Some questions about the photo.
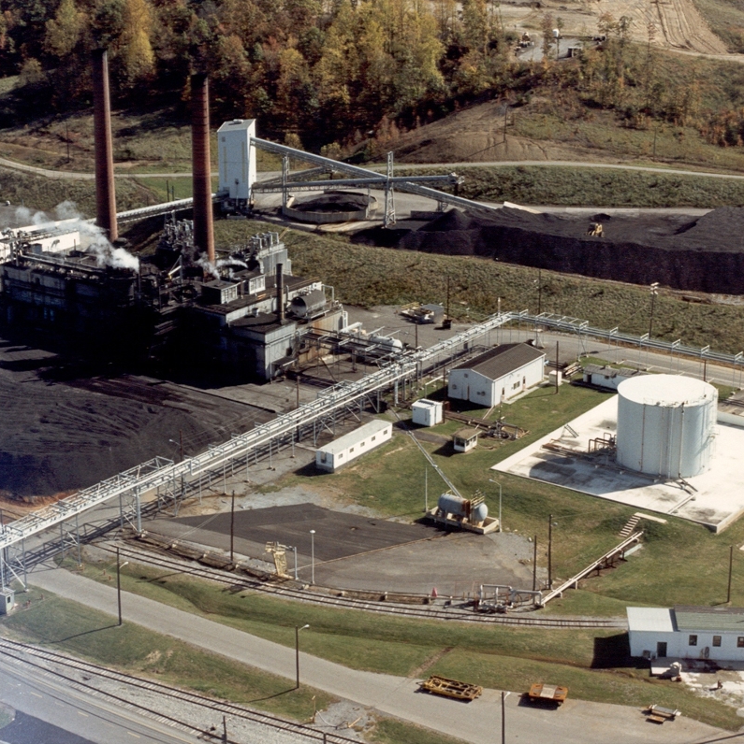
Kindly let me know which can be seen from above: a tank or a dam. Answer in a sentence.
The image shows a tank.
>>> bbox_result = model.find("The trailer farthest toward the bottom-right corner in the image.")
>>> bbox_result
[519,679,566,699]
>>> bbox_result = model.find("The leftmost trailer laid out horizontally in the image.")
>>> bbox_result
[411,677,479,700]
